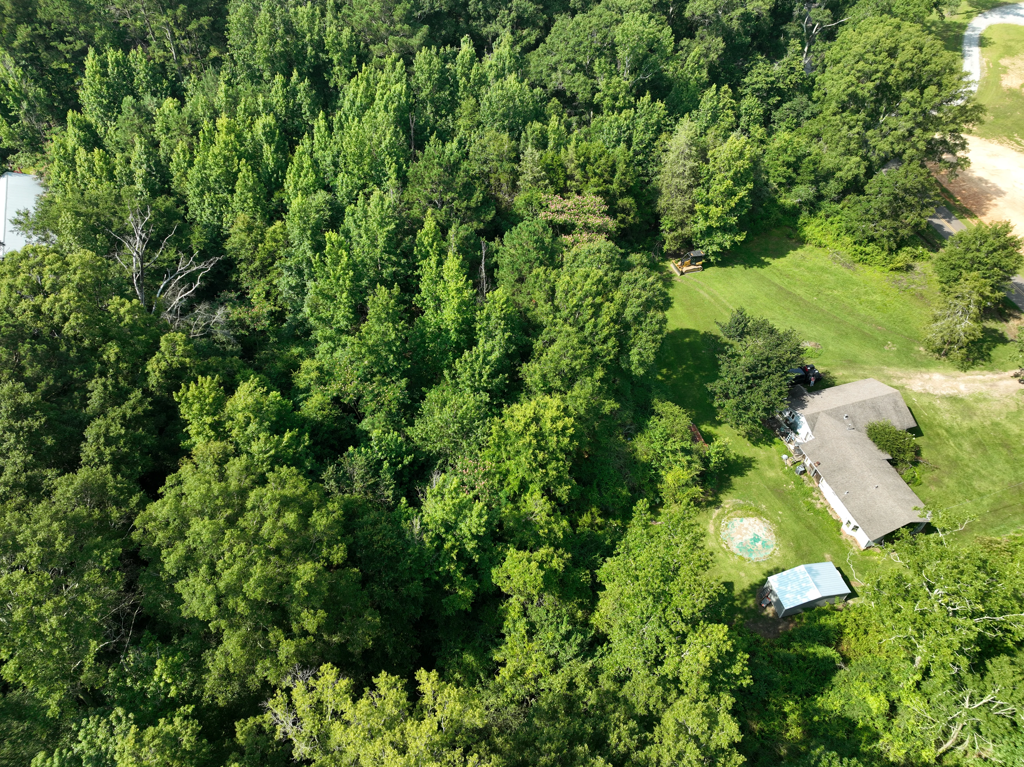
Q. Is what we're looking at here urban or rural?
rural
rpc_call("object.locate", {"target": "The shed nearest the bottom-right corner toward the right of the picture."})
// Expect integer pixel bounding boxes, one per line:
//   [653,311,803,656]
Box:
[764,562,851,619]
